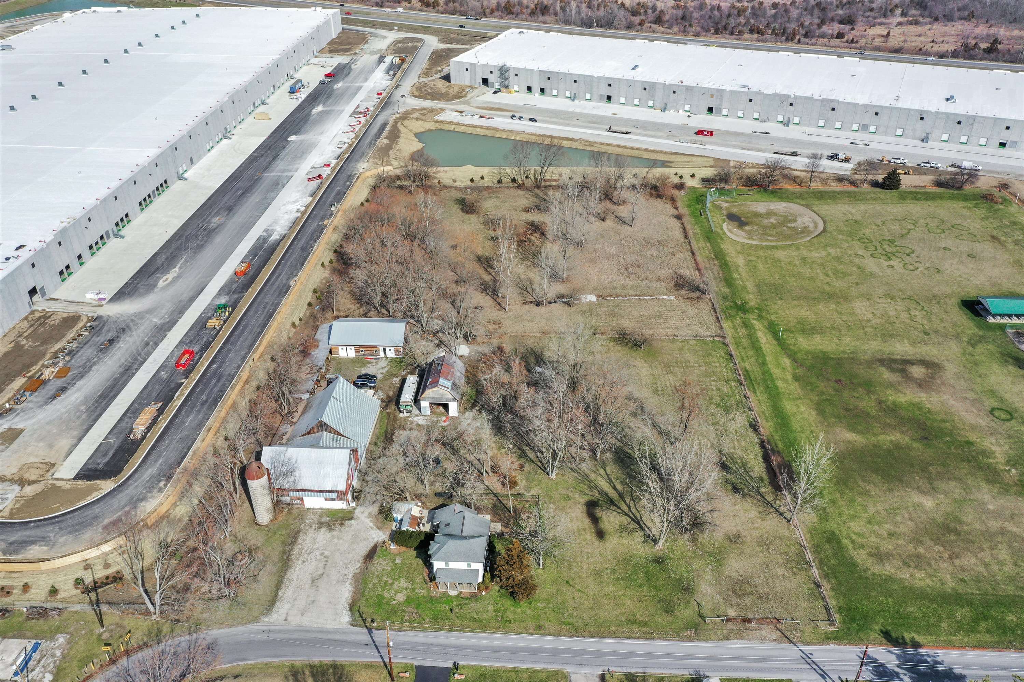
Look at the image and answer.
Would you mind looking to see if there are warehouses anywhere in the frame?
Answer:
Yes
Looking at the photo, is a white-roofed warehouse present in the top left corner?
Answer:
Yes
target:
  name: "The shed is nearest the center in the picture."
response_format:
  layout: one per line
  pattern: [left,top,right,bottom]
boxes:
[417,353,462,414]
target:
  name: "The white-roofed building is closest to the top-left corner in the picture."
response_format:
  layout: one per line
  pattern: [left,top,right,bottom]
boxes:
[0,5,343,338]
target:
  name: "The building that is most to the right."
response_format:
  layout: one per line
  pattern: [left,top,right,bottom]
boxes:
[972,295,1024,323]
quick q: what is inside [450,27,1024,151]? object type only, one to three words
warehouse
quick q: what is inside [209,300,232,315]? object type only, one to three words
work vehicle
